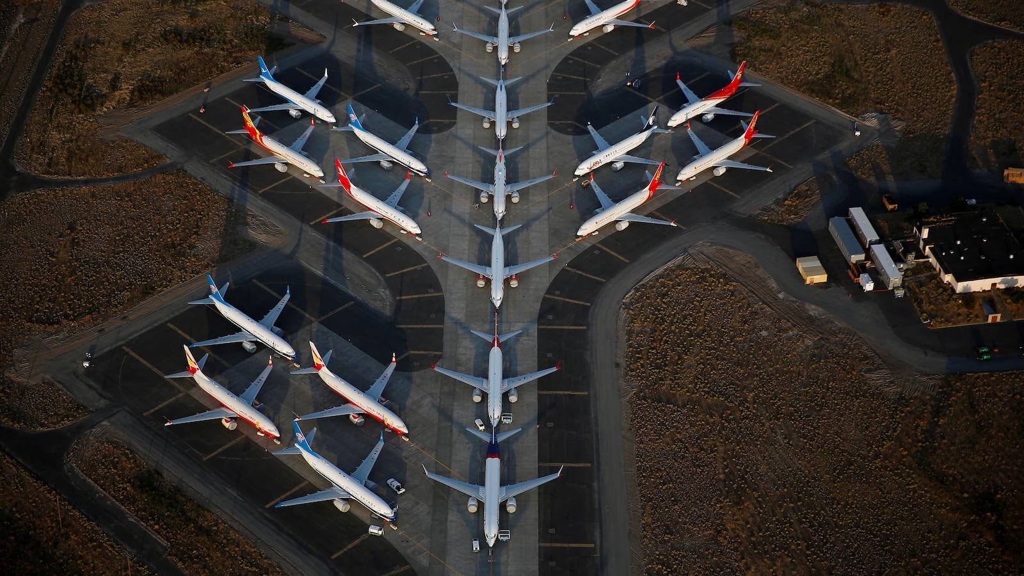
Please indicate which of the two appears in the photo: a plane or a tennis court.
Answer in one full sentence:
Visible in the photo is a plane.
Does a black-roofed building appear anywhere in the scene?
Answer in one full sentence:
Yes, looking at the shot, I can spot a black-roofed building.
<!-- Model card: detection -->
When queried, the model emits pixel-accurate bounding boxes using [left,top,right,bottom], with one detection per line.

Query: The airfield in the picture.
[75,0,840,576]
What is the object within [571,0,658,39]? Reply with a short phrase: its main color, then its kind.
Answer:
white airplane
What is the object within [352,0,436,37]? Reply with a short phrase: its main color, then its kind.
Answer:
white airplane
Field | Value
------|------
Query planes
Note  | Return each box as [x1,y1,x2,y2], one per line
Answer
[188,273,296,362]
[164,345,279,440]
[430,316,561,427]
[352,0,436,37]
[448,60,555,144]
[668,60,761,129]
[571,0,658,39]
[272,419,395,523]
[226,106,323,179]
[291,341,407,436]
[453,0,554,66]
[575,105,674,178]
[318,158,421,236]
[437,207,558,308]
[331,103,428,177]
[443,129,557,221]
[422,409,563,546]
[577,160,680,238]
[243,55,335,125]
[677,110,775,183]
